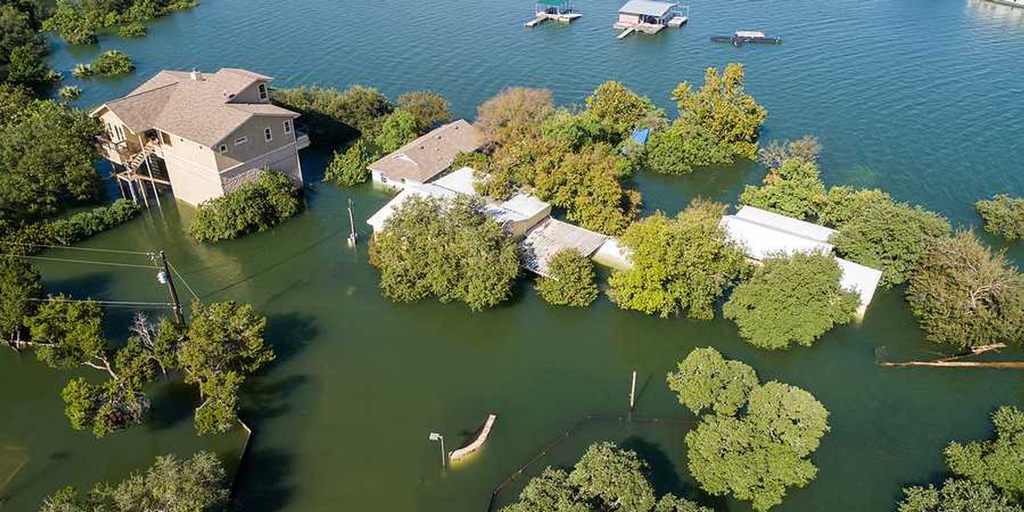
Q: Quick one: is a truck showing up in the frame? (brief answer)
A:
No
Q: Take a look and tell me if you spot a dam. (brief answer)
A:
No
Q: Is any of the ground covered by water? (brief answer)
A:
Yes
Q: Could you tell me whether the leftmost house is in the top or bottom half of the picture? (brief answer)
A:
top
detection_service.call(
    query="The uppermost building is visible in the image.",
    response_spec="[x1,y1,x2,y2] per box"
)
[612,0,696,37]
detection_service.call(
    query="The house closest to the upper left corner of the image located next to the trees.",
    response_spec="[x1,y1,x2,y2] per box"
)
[87,66,312,214]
